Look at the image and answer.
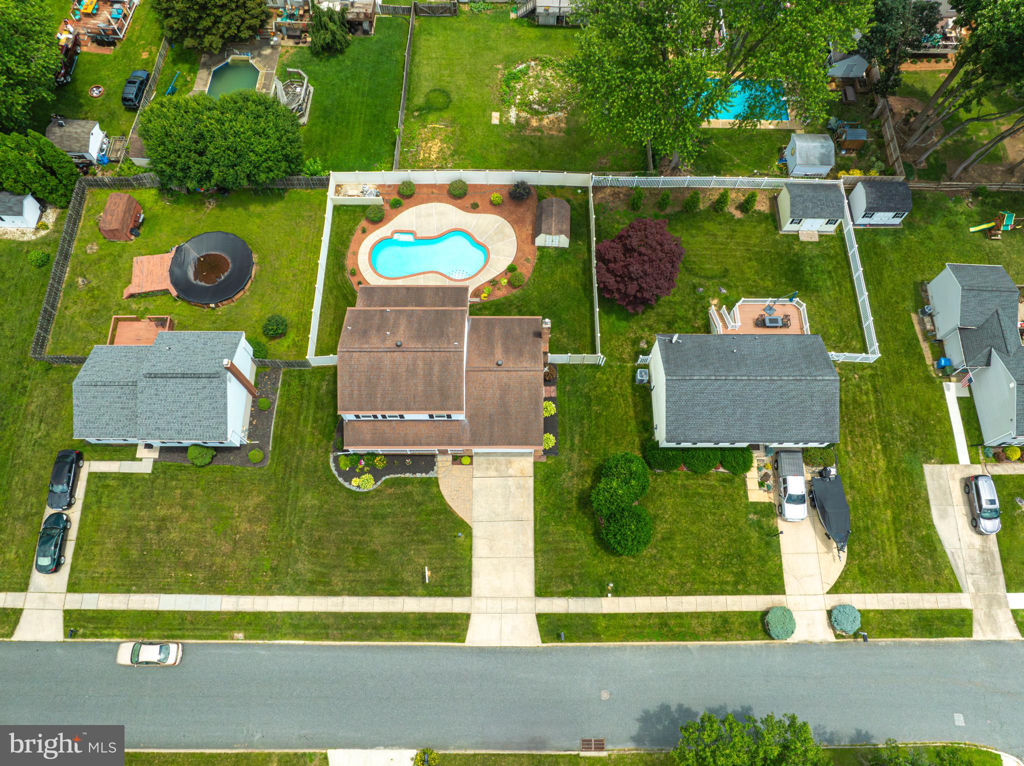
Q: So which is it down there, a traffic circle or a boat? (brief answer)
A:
boat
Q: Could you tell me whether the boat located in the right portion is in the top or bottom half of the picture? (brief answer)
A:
bottom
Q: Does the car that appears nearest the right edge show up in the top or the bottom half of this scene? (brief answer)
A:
bottom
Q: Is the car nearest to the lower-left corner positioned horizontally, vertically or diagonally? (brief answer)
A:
horizontally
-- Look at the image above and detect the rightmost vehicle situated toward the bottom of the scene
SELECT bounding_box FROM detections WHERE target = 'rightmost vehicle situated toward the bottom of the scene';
[963,476,1007,532]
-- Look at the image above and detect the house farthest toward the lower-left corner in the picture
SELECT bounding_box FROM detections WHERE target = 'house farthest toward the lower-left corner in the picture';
[72,331,256,453]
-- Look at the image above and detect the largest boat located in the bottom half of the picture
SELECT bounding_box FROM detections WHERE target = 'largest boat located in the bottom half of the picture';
[817,468,857,544]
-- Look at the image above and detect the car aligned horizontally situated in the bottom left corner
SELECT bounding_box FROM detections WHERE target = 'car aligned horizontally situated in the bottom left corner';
[118,638,187,671]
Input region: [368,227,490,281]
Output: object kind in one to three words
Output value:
swimming pool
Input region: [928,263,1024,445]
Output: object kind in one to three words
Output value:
house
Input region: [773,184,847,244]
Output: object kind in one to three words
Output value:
shed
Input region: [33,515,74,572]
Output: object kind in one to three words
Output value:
car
